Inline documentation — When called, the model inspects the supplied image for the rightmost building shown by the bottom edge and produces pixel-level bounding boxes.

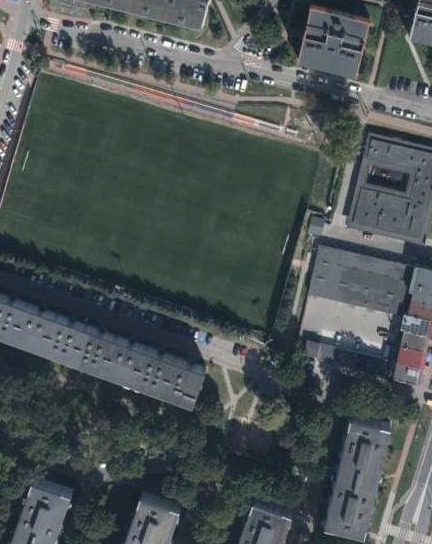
[323,417,395,543]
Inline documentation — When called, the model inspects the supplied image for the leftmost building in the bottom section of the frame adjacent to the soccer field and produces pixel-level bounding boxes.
[0,287,209,409]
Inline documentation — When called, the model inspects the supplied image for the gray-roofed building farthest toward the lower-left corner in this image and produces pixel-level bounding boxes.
[10,477,73,544]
